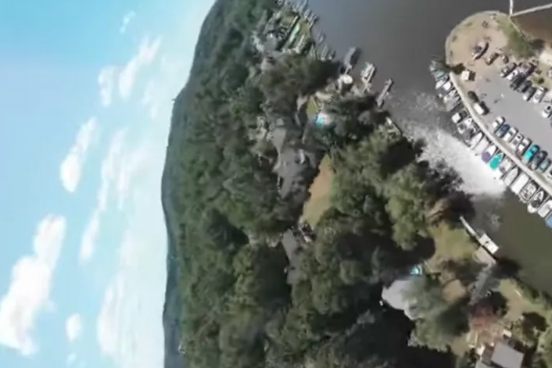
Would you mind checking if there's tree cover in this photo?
Yes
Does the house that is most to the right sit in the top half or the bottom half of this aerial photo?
bottom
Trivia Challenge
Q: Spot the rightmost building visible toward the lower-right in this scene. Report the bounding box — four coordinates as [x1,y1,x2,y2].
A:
[491,333,528,368]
